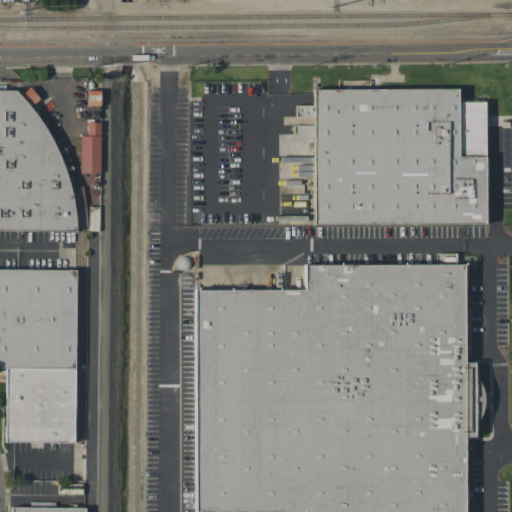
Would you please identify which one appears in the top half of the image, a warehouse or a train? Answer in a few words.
warehouse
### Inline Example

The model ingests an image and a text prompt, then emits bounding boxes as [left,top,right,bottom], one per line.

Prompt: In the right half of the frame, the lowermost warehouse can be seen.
[194,265,487,512]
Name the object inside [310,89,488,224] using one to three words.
warehouse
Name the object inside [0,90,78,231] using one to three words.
building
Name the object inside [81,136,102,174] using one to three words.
building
